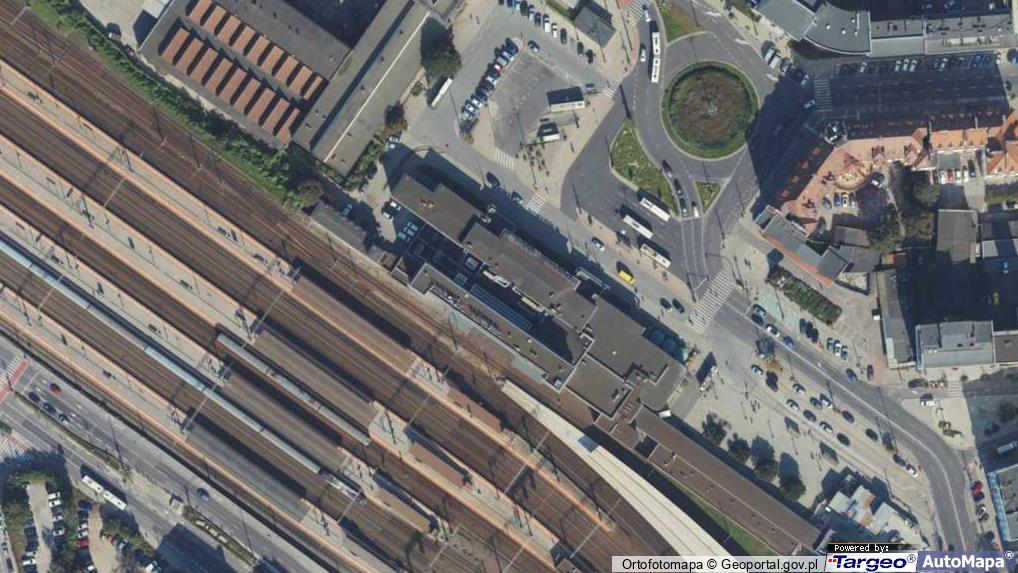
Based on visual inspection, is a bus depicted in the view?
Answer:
Yes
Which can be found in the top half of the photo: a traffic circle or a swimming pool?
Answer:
traffic circle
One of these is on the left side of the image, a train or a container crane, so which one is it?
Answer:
train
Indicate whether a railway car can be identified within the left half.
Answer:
Yes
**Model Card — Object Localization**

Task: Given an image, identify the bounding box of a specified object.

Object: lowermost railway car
[320,472,365,505]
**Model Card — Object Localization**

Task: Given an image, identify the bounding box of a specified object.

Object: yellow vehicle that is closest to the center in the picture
[617,270,635,285]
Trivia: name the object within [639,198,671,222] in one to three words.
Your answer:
bus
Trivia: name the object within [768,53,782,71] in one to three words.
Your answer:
vehicle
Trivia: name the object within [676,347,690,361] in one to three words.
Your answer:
umbrella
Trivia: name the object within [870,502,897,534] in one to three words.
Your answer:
building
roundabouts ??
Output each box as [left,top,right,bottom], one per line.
[662,59,760,157]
